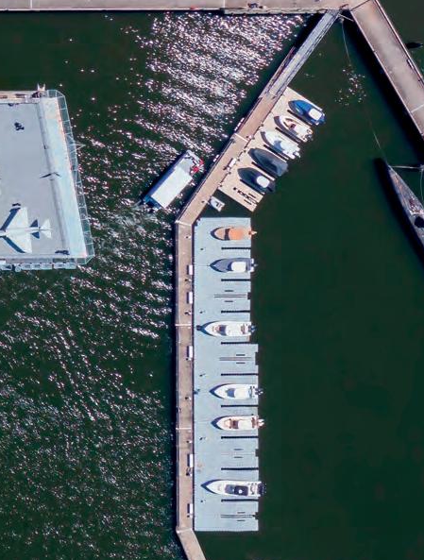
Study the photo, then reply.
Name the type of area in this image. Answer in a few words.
port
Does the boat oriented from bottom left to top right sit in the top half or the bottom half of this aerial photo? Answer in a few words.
top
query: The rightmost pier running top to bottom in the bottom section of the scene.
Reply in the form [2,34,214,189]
[194,216,258,531]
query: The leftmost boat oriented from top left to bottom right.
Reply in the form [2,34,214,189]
[209,196,225,210]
